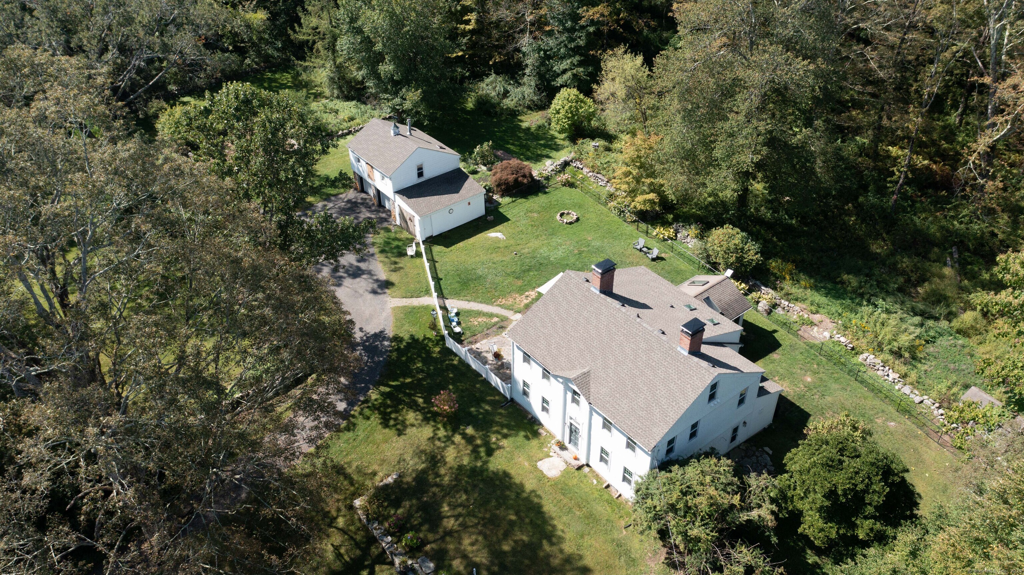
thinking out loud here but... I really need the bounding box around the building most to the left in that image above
[346,116,488,243]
